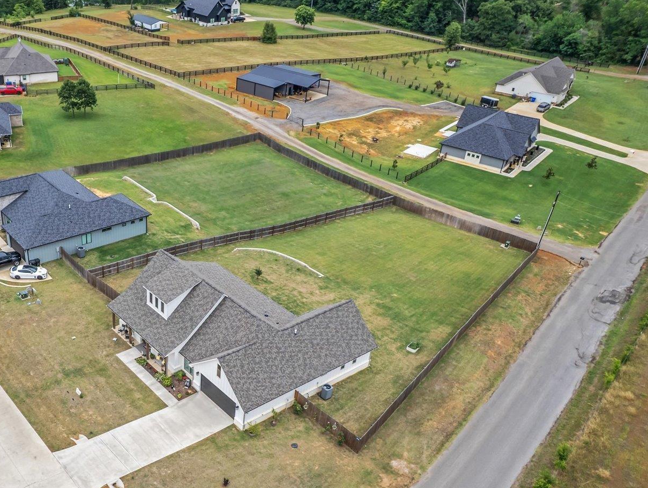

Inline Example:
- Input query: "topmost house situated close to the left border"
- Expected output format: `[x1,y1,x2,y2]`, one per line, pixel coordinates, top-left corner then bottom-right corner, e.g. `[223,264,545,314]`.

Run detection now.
[0,36,60,85]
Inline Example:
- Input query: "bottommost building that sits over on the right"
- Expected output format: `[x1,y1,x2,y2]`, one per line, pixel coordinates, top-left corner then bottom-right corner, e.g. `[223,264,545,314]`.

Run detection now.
[438,104,545,175]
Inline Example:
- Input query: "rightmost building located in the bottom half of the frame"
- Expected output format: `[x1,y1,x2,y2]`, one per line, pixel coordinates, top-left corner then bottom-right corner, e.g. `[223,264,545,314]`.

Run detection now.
[104,248,379,430]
